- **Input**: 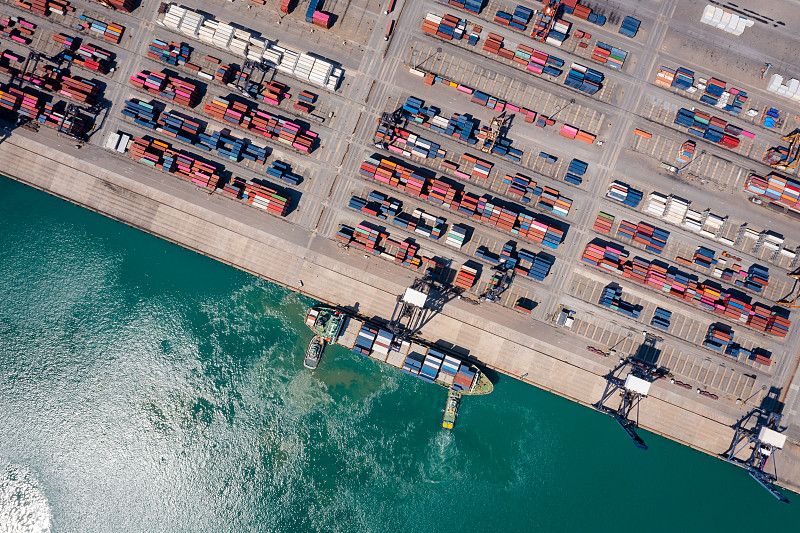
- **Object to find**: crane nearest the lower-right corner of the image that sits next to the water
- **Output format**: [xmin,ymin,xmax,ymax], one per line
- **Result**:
[712,408,792,505]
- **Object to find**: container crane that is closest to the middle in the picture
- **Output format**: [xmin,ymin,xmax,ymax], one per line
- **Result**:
[384,269,432,351]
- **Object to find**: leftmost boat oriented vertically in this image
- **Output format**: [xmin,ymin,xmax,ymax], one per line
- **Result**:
[302,338,322,374]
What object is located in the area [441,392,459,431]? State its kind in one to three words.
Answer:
boat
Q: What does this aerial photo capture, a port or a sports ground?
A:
port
